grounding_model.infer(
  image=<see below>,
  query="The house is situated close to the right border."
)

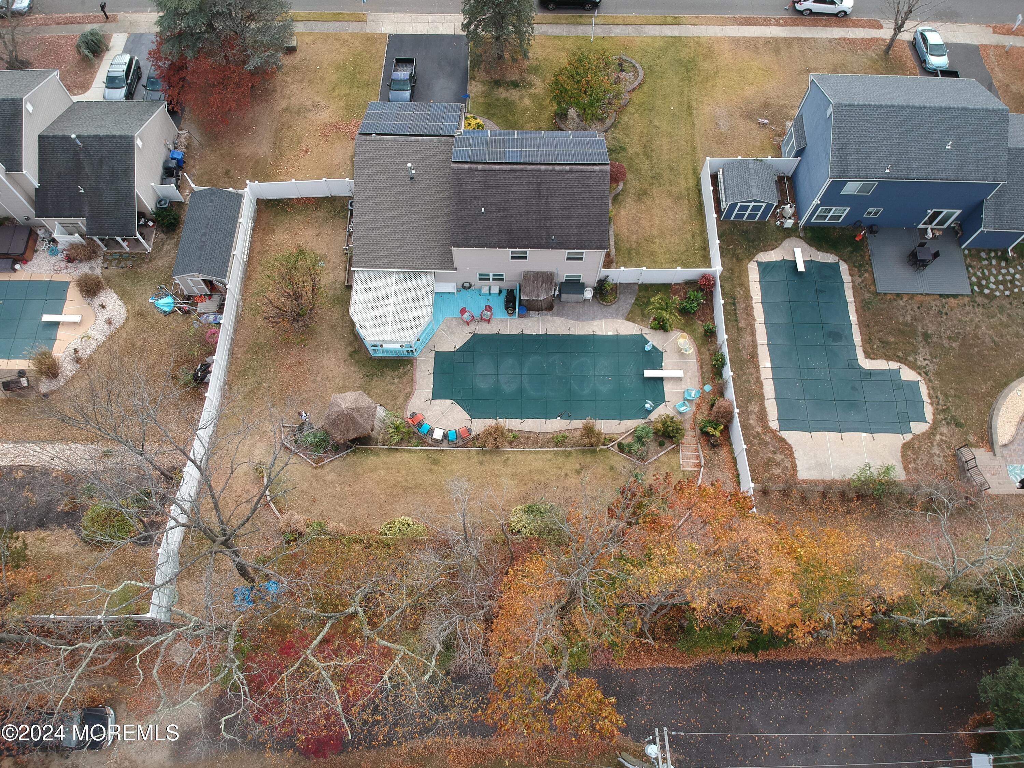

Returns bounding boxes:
[779,71,1024,265]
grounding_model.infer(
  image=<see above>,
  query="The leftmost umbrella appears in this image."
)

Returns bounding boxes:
[155,296,196,311]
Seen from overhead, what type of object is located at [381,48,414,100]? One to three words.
truck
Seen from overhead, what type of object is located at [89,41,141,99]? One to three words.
car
